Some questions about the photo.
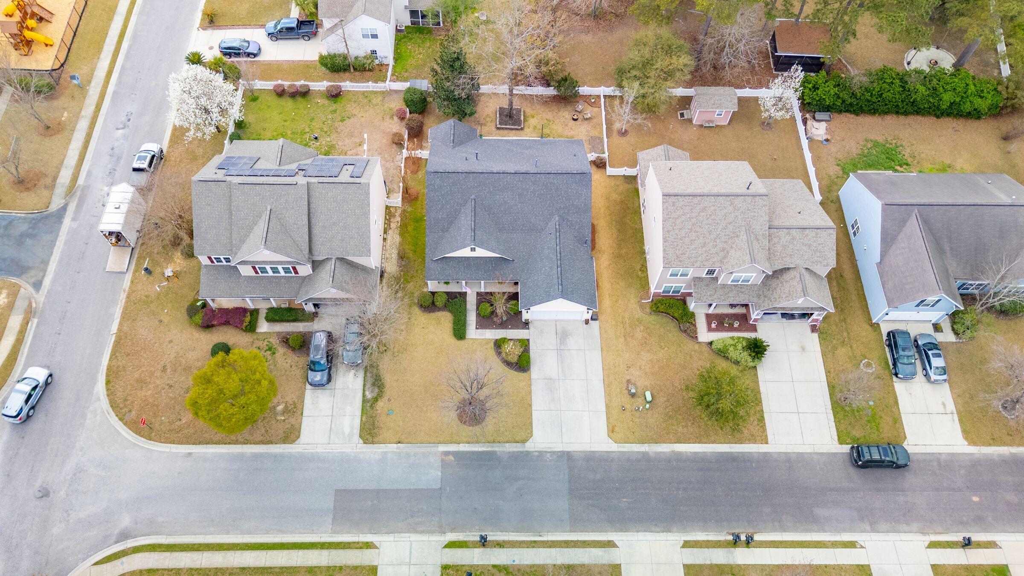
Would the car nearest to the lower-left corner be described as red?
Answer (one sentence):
No, from above the car nearest to the lower-left corner looks white.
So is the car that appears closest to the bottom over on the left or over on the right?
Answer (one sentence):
You can find the car that appears closest to the bottom on the right side of the picture.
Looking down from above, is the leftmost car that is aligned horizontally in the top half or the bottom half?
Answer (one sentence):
The leftmost car that is aligned horizontally sits in the top half of the picture.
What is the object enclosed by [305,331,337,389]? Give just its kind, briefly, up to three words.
car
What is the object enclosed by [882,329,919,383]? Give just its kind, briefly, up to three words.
car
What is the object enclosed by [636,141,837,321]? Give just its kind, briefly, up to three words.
house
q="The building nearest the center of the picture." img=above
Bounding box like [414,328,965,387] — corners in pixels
[424,117,599,322]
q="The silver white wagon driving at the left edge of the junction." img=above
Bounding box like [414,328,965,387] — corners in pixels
[1,369,51,426]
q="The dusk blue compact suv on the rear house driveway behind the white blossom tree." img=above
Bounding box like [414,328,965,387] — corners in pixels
[219,36,264,57]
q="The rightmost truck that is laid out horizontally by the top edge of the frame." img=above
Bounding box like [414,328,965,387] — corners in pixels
[265,16,321,40]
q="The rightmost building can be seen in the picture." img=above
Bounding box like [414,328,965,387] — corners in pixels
[835,172,1024,323]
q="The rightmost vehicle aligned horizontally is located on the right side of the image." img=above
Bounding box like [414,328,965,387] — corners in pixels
[846,442,911,472]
